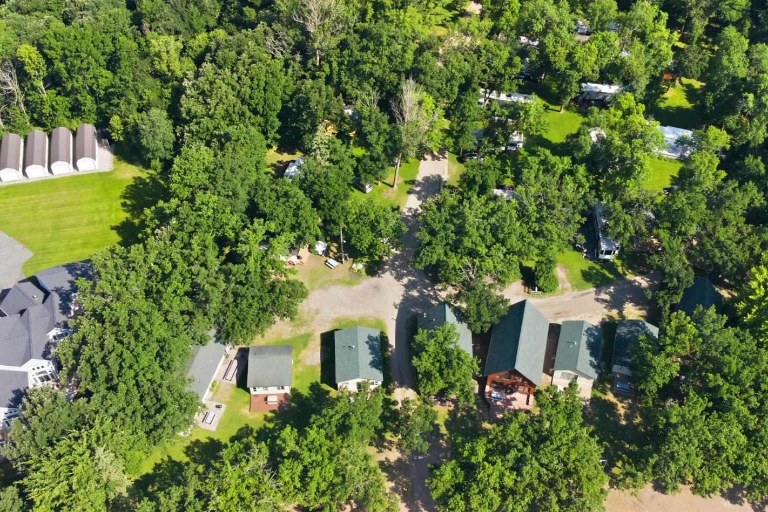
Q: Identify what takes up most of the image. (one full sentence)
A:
The bulk of the photo consists of trees.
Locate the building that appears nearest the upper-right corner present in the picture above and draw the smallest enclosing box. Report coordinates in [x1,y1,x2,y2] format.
[654,126,692,169]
